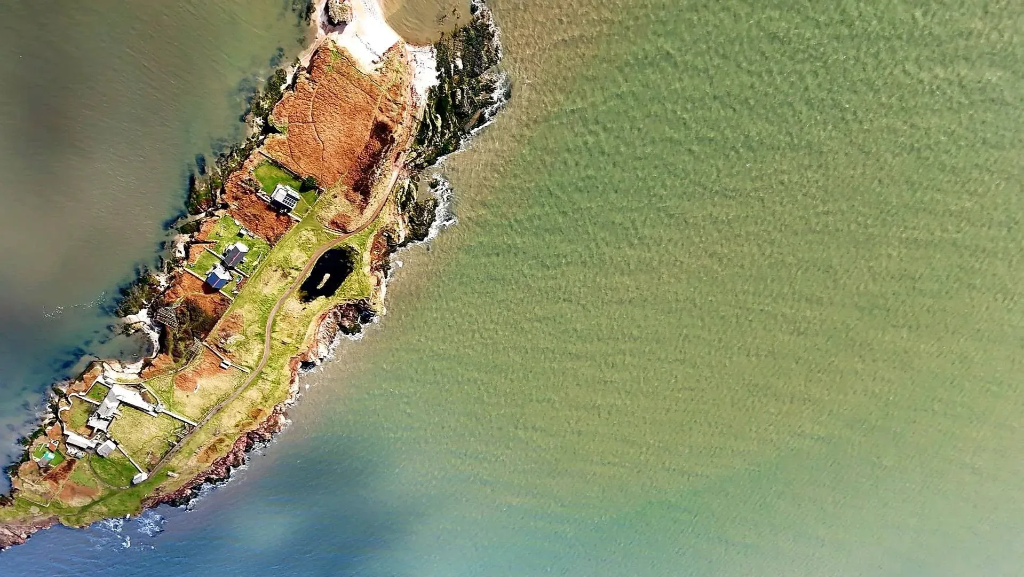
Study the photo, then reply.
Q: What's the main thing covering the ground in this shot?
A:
water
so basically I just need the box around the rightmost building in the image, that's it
[270,188,300,214]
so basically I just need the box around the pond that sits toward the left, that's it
[298,245,353,301]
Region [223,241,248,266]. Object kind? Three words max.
house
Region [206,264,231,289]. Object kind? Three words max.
house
